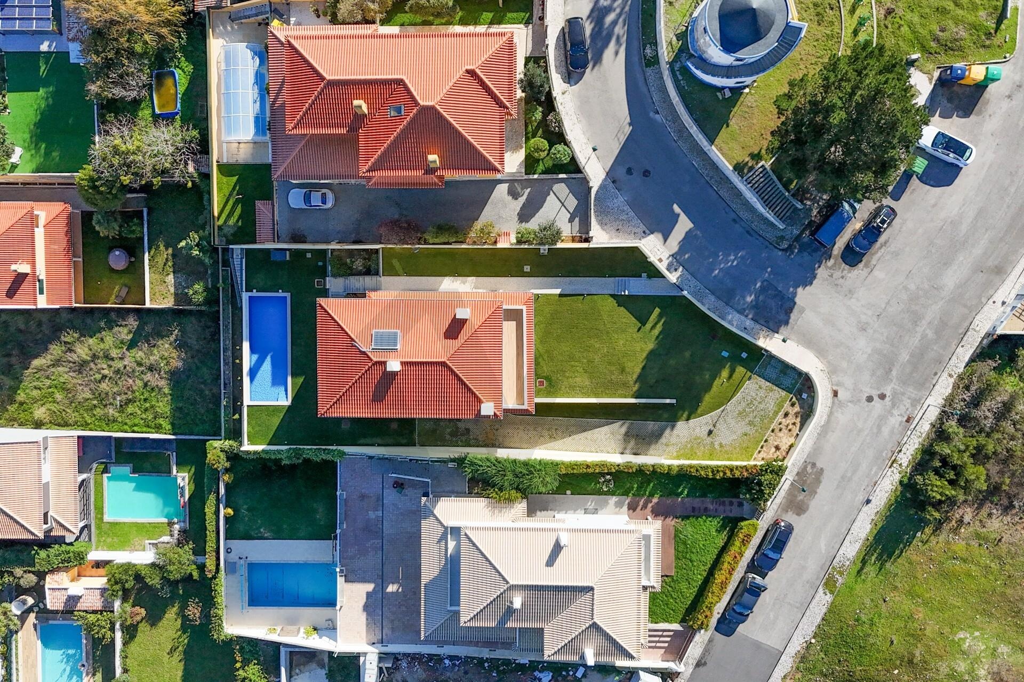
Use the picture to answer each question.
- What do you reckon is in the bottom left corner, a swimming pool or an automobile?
swimming pool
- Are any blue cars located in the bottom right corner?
Yes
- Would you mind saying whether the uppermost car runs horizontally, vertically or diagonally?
vertically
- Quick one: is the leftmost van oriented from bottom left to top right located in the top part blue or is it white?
blue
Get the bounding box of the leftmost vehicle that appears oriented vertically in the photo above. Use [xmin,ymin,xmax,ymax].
[566,19,590,73]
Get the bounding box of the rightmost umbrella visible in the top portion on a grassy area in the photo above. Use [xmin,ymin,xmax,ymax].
[109,249,135,270]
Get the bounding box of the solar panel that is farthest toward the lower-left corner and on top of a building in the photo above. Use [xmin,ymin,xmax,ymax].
[352,330,401,352]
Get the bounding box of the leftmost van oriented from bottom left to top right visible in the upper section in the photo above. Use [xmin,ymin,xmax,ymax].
[808,204,855,252]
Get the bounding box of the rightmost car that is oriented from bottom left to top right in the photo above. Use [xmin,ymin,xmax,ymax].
[850,203,895,255]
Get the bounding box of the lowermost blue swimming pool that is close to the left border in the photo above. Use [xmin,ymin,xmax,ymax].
[36,619,87,682]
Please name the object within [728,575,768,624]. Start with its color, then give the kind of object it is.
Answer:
blue car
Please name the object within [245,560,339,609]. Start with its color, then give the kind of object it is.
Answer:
blue swimming pool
